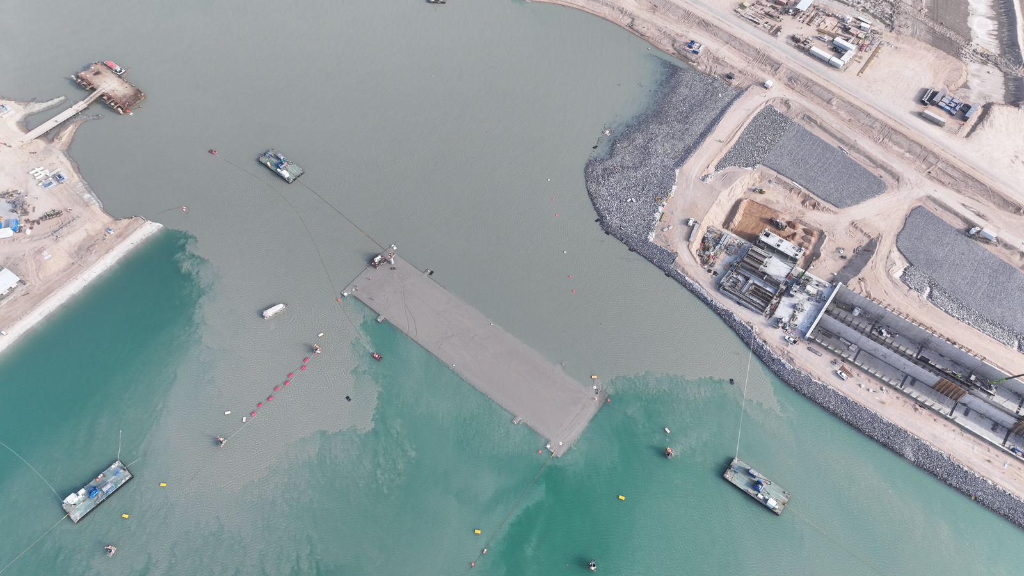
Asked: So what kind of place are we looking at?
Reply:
port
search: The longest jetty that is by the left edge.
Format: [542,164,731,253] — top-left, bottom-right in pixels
[18,86,107,143]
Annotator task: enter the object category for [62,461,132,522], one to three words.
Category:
ship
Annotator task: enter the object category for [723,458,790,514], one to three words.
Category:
ship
